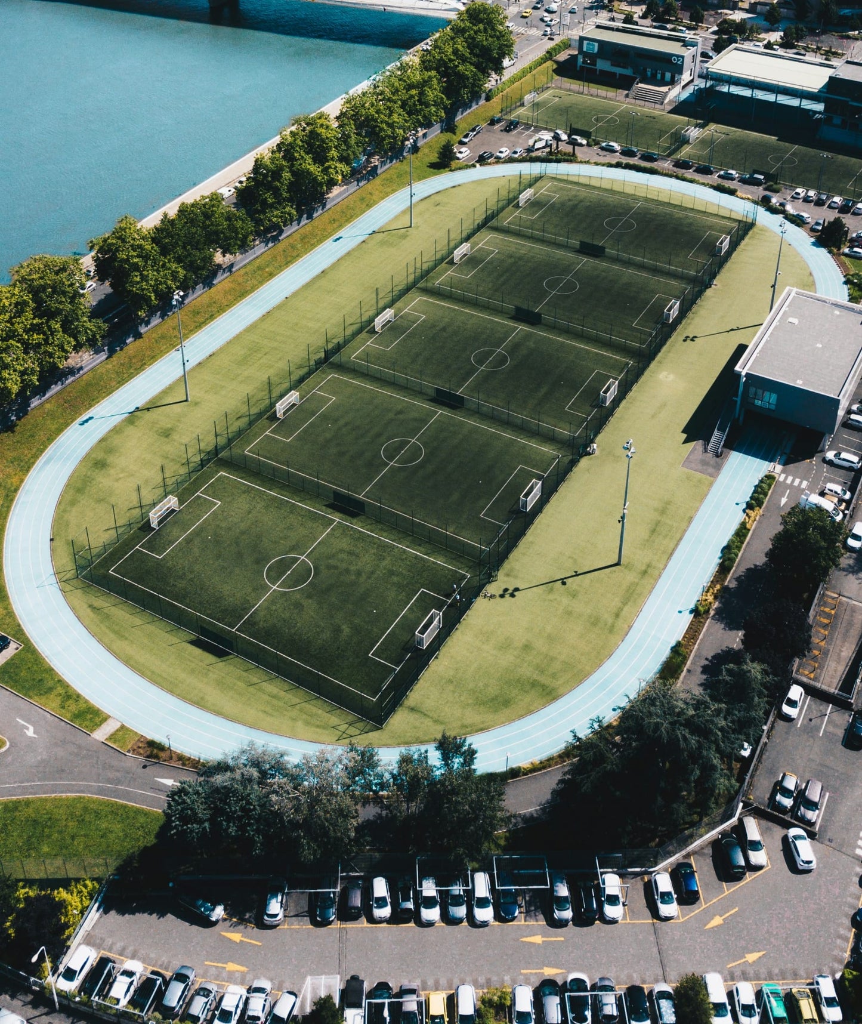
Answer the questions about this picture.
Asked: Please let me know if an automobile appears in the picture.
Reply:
Yes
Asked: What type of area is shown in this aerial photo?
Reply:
sports ground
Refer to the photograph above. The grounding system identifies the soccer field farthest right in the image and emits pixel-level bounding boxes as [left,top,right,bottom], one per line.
[679,120,862,196]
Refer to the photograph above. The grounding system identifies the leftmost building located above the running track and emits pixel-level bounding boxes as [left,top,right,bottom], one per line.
[578,19,710,98]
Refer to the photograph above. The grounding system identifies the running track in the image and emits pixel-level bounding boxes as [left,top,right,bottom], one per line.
[8,161,848,787]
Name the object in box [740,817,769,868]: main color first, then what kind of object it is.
white car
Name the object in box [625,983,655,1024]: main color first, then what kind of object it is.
black car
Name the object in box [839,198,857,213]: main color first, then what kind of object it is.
black car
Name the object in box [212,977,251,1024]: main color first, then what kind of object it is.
white car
